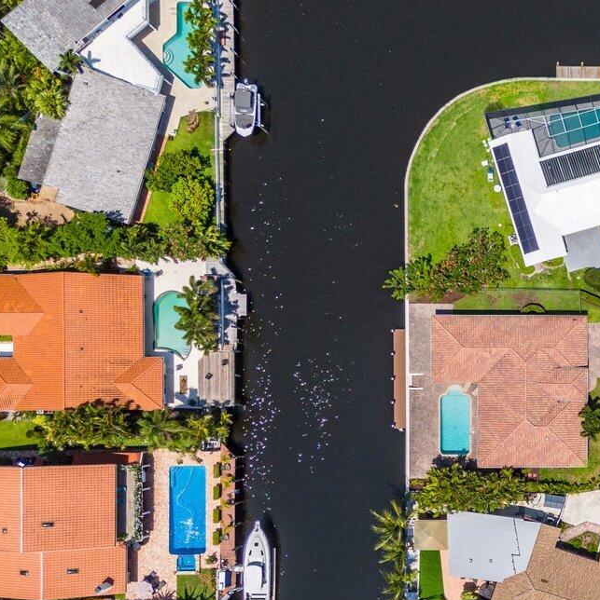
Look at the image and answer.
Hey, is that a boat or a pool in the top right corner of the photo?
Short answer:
pool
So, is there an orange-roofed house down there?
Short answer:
Yes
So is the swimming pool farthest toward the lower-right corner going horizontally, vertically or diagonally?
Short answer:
vertically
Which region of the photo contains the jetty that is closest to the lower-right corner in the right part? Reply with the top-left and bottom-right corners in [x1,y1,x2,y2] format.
[391,329,404,429]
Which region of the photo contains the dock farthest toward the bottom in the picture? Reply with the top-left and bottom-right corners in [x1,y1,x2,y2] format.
[219,445,246,600]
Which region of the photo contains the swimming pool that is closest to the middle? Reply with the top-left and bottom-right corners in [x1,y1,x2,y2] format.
[153,289,196,361]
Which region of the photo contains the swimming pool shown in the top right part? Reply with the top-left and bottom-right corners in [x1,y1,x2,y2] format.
[548,104,600,148]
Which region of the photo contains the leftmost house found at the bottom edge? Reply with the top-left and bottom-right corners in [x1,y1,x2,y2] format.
[0,452,151,600]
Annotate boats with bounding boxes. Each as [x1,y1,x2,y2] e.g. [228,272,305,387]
[233,78,256,136]
[243,522,270,600]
